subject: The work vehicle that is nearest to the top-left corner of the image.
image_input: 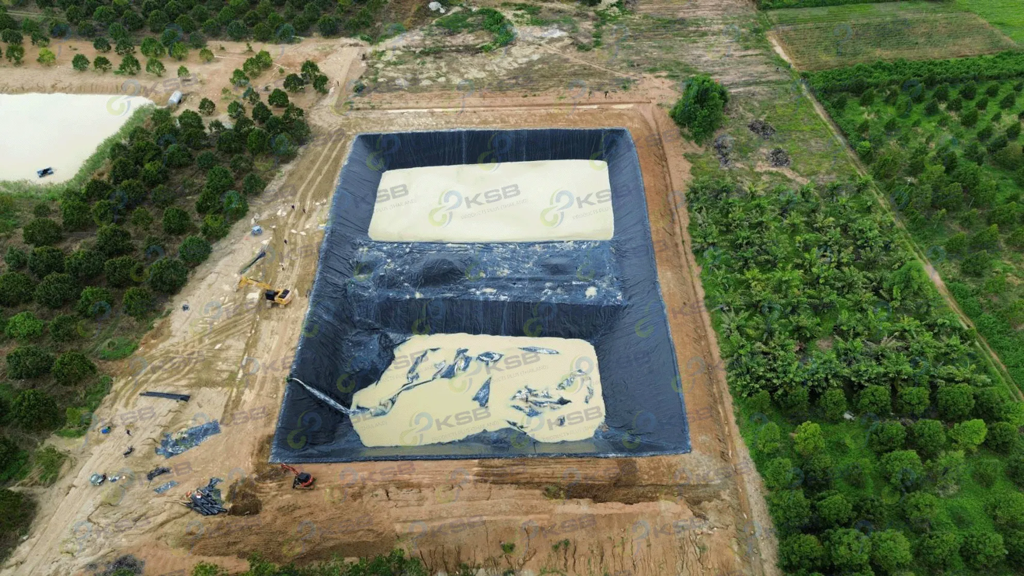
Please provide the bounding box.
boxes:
[249,222,263,238]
